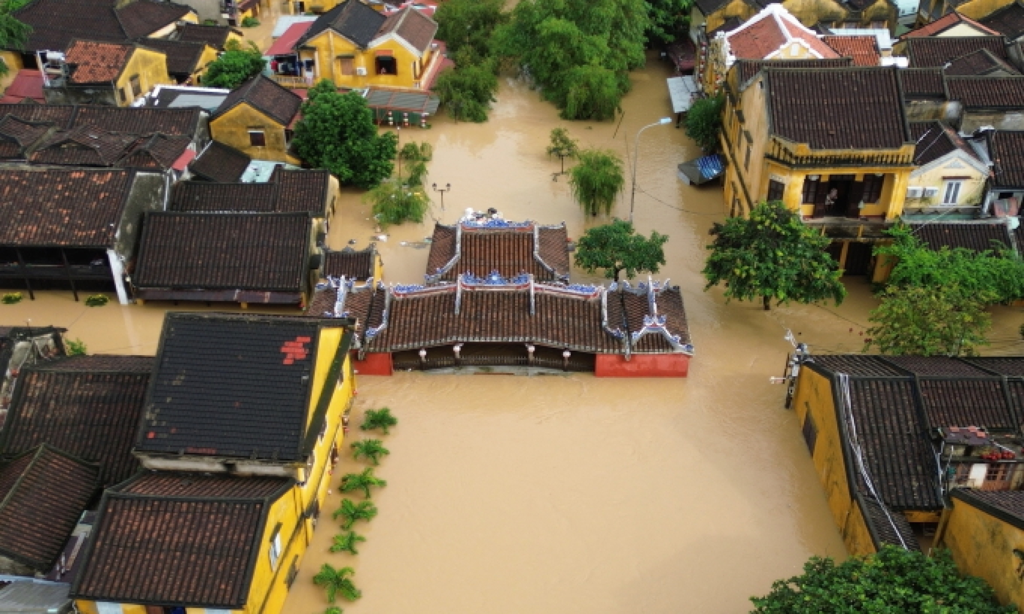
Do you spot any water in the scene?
Yes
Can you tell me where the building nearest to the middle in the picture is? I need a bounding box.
[420,215,577,288]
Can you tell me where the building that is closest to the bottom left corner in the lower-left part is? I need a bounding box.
[0,441,101,614]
